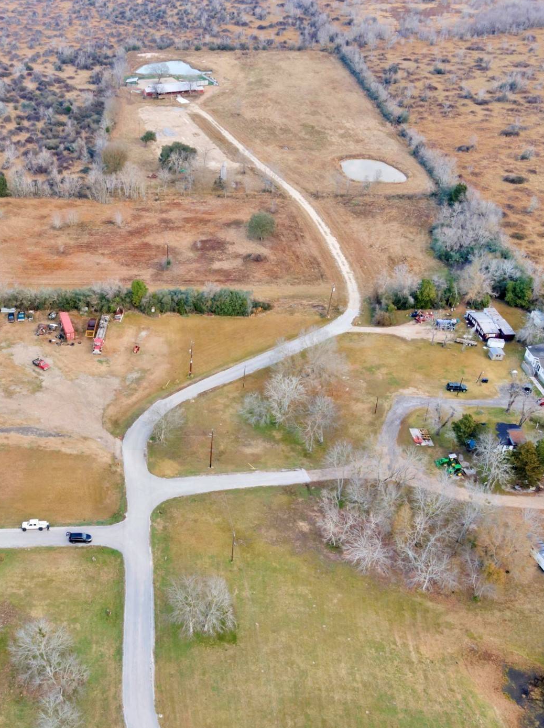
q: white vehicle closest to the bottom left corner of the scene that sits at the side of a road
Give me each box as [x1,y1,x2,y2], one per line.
[21,520,49,532]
